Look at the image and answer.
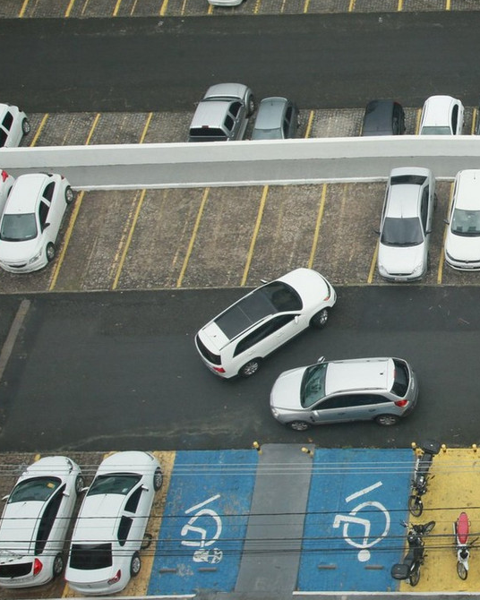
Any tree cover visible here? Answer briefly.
No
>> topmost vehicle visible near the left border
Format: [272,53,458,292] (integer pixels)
[0,107,29,147]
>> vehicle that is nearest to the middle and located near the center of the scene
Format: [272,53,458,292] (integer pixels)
[197,276,333,378]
